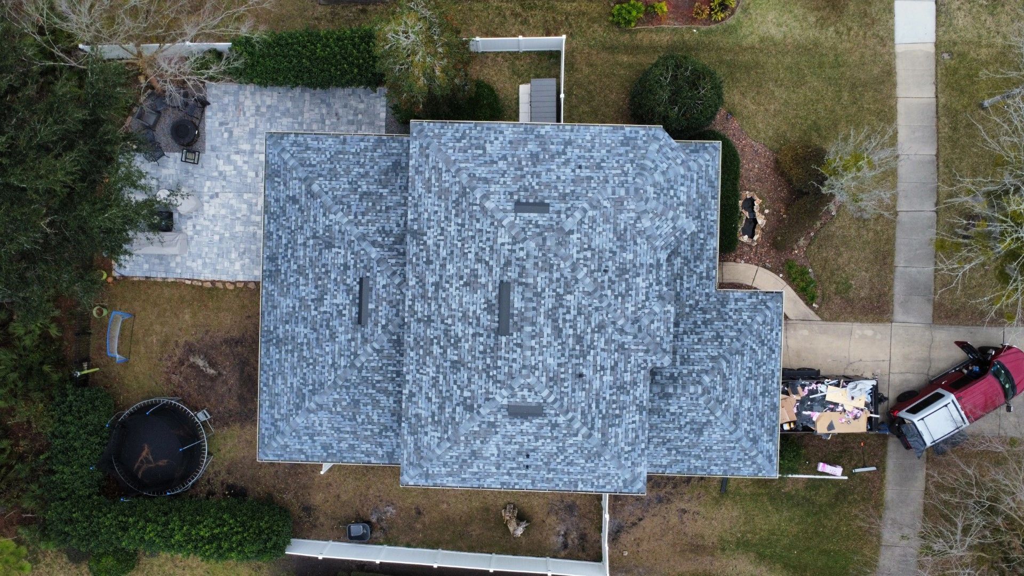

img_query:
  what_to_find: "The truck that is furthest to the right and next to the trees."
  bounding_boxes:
[881,339,1024,449]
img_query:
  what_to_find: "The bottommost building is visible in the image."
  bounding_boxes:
[255,117,787,498]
